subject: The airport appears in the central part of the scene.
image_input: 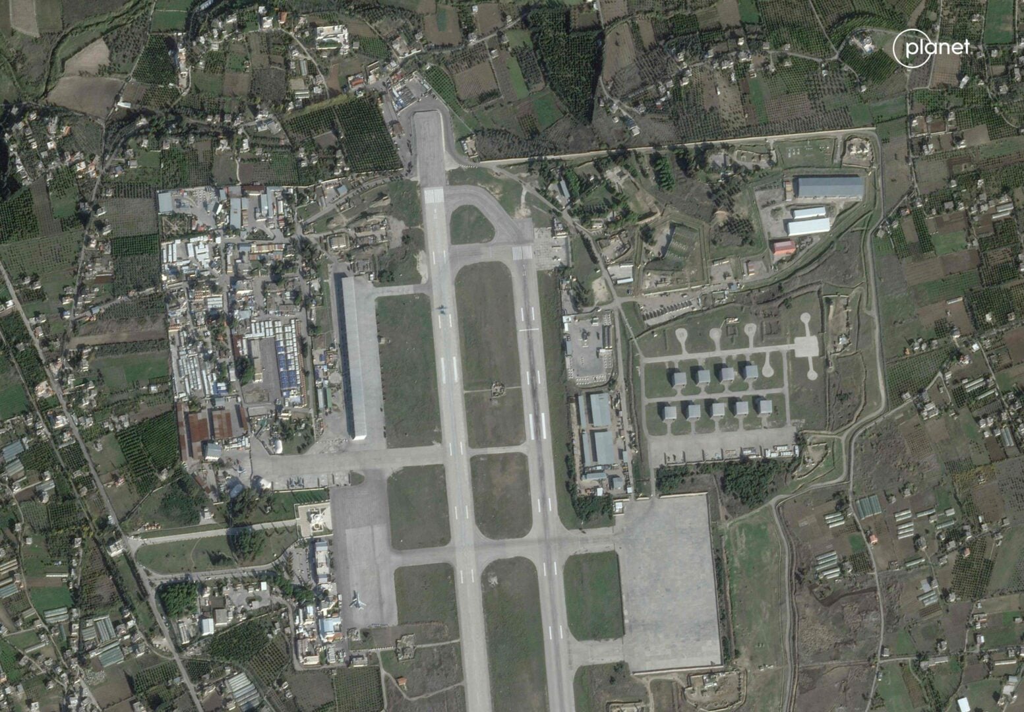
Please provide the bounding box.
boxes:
[221,72,819,712]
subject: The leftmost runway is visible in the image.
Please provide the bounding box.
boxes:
[421,187,492,712]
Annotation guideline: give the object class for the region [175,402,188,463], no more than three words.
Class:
building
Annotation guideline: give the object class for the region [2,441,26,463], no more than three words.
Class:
greenhouse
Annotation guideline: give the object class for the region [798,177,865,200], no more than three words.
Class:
hangar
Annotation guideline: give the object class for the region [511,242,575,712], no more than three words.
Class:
runway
